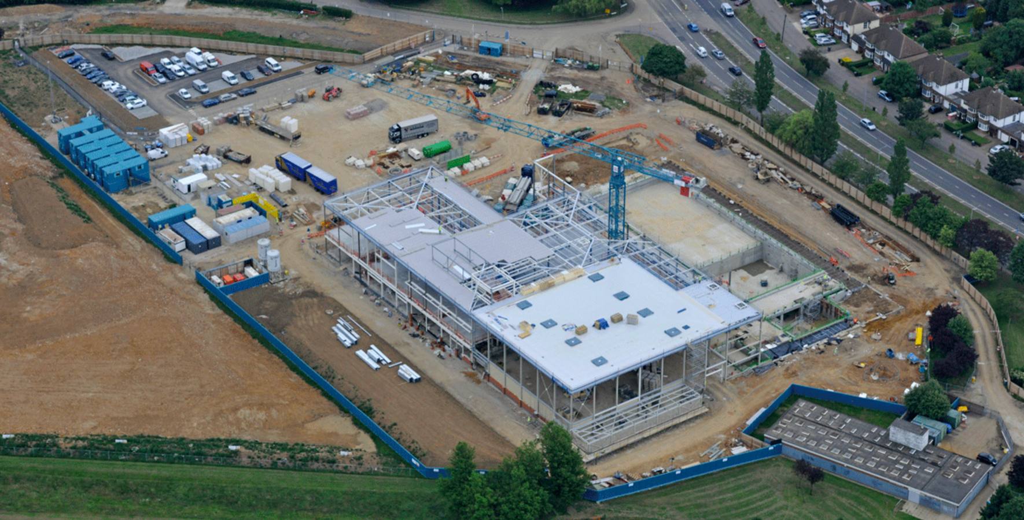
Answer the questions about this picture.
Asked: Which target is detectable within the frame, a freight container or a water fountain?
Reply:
freight container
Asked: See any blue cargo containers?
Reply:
Yes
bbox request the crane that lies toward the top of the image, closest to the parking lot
[326,64,706,241]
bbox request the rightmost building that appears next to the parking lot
[318,153,769,462]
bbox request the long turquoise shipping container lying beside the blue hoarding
[144,202,196,230]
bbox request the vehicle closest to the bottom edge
[975,450,999,467]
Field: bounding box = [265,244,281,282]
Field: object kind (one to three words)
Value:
silo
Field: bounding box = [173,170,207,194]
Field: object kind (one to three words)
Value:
building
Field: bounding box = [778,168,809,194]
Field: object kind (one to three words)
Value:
work vehicle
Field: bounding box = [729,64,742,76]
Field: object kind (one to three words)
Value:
vehicle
